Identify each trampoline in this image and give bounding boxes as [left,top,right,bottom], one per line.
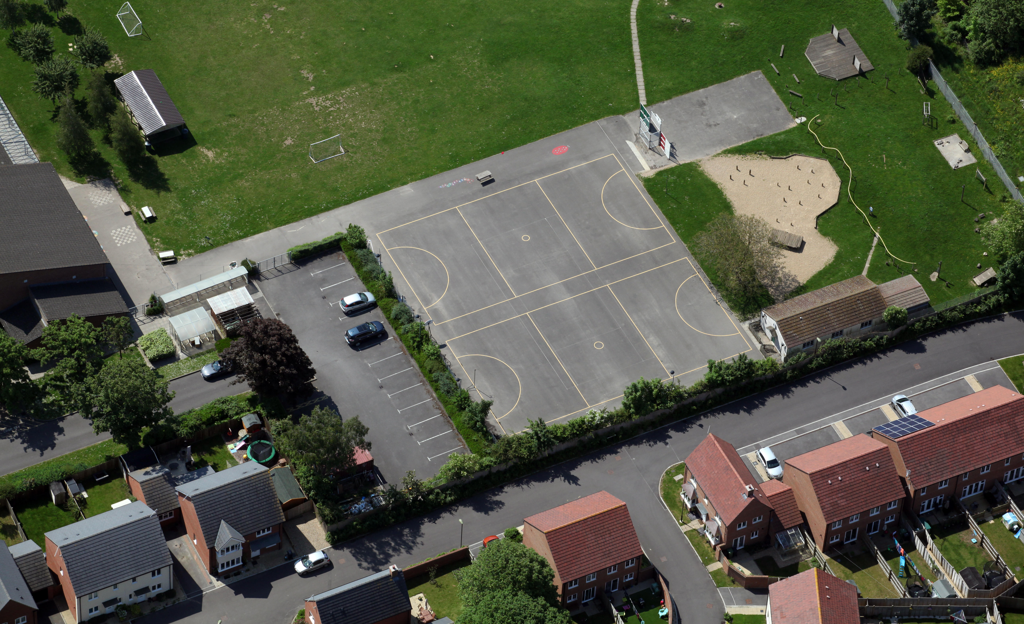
[904,575,929,598]
[981,559,1006,588]
[247,434,275,465]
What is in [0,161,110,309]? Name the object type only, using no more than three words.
building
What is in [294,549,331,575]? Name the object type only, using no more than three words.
car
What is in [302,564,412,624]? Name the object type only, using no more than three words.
house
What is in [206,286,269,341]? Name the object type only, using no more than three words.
building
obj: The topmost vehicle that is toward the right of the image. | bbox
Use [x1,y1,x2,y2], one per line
[888,391,918,417]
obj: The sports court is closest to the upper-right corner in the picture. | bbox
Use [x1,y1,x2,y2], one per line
[622,70,798,169]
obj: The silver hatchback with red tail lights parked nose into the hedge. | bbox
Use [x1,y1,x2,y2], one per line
[338,291,376,314]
